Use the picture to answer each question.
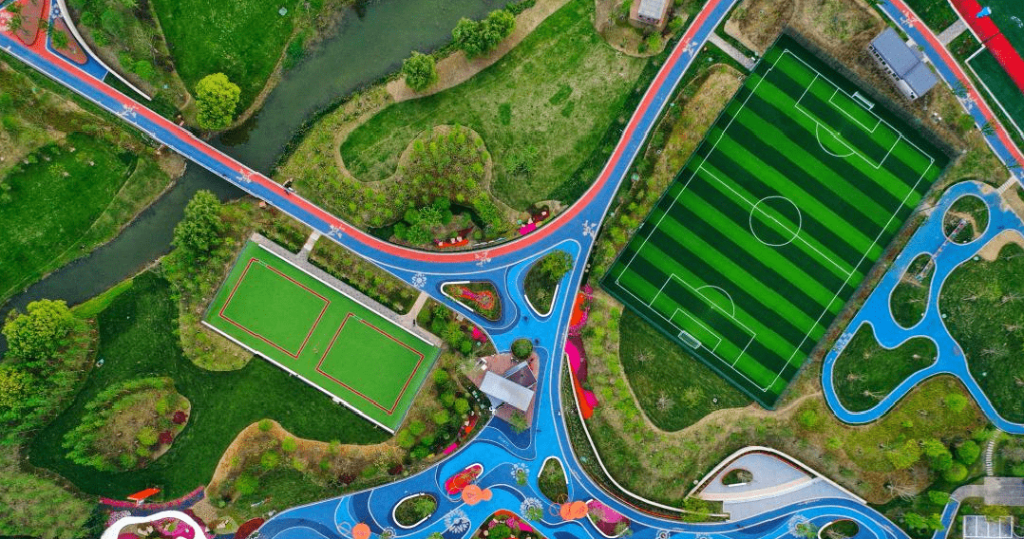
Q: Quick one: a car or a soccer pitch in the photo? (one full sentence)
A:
The one in the frame is a soccer pitch.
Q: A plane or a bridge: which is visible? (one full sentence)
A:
This aerial view contains a bridge.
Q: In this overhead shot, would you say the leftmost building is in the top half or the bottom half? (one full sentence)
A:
Seen from above, the leftmost building lies in the bottom half of the view.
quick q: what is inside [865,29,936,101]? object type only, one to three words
building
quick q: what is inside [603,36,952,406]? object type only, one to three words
soccer field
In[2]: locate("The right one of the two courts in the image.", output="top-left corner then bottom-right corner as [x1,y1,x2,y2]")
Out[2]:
[296,294,440,433]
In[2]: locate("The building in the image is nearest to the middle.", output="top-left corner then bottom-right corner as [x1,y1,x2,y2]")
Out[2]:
[479,361,537,412]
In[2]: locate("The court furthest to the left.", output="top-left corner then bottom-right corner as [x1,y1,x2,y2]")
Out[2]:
[203,238,342,375]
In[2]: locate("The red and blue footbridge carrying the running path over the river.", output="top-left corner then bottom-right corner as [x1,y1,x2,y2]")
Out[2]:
[174,129,274,200]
